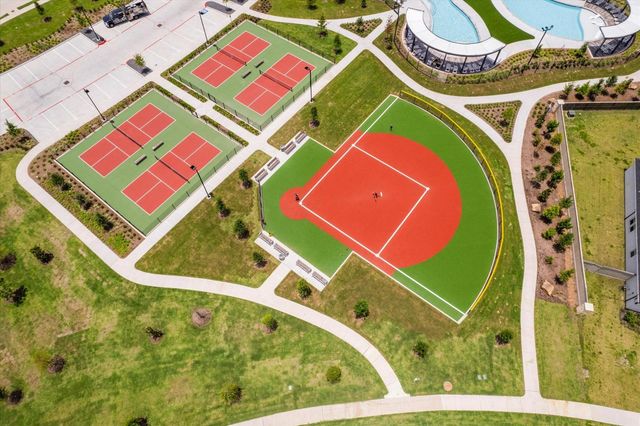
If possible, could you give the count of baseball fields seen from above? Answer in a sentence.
The photo contains exactly 1 baseball field.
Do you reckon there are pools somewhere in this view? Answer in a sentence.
Yes, there's a pool here.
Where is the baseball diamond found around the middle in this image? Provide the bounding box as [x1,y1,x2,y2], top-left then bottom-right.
[262,94,499,324]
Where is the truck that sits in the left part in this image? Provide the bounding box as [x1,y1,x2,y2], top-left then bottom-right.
[99,0,147,27]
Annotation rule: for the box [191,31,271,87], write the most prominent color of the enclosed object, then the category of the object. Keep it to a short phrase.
red sports court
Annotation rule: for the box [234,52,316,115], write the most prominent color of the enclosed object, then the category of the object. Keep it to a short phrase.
red sports court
